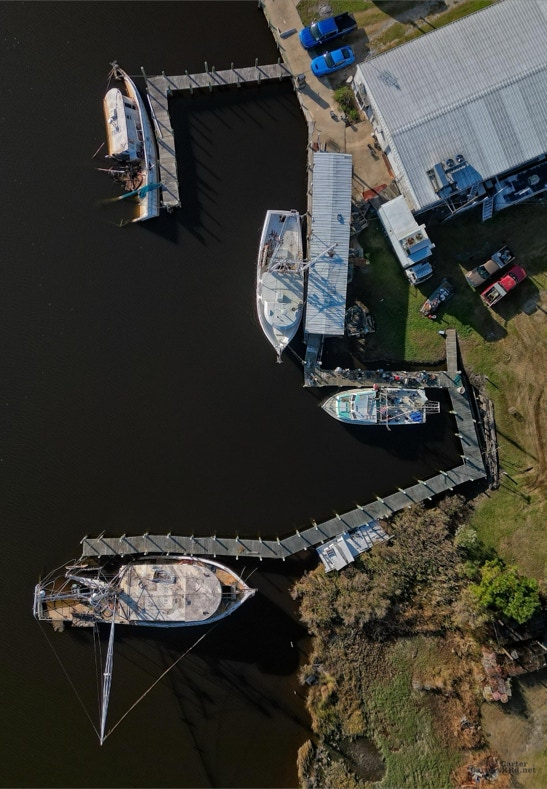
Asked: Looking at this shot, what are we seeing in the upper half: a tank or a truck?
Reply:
truck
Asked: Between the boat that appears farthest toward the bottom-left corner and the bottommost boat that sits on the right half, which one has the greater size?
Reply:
the boat that appears farthest toward the bottom-left corner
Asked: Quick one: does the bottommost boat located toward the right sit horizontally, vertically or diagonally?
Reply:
horizontally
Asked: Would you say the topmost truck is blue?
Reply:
Yes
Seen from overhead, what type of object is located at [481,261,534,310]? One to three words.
truck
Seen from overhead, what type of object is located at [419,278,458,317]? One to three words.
trailer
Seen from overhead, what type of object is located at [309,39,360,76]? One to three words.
car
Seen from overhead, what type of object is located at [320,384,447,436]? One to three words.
boat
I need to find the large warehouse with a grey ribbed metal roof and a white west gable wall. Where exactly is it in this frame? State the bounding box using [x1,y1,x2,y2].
[351,0,547,217]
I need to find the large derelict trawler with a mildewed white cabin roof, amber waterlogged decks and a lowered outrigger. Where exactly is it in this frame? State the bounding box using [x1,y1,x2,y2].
[27,552,259,746]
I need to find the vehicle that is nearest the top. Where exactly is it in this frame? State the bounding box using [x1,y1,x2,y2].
[297,1,361,49]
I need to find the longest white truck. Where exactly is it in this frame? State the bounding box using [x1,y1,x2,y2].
[377,195,435,288]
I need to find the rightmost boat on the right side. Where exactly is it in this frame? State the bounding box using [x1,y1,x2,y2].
[492,167,547,223]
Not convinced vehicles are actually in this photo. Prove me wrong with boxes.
[297,1,361,49]
[464,240,521,287]
[481,261,534,310]
[309,39,360,76]
[377,195,435,288]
